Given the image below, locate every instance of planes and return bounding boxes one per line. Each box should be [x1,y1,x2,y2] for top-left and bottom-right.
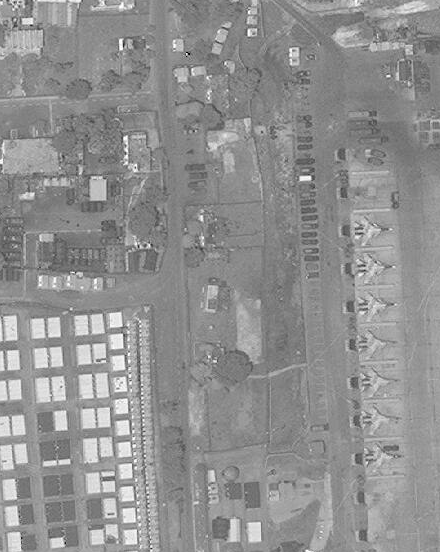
[354,254,393,282]
[359,367,399,395]
[361,406,401,434]
[355,291,396,319]
[352,216,392,244]
[357,329,397,357]
[363,444,404,471]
